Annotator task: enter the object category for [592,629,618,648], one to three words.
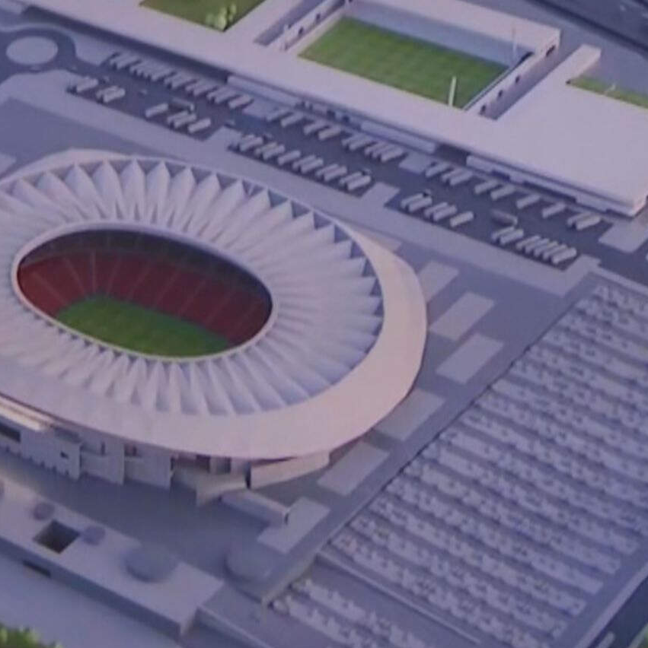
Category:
vehicle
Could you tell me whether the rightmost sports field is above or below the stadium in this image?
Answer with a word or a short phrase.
above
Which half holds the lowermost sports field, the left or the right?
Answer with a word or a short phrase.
left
